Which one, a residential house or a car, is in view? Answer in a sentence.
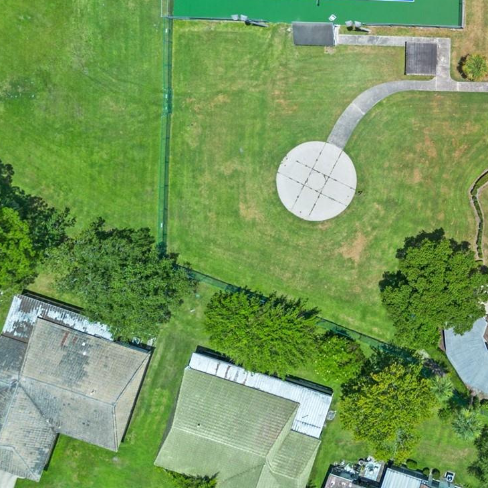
The image shows a residential house.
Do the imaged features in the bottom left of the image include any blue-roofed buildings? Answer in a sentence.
No, no blue-roofed building is visible in the bottom left of the image.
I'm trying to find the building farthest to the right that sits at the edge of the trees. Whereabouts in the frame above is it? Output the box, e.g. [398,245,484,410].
[444,312,488,393]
